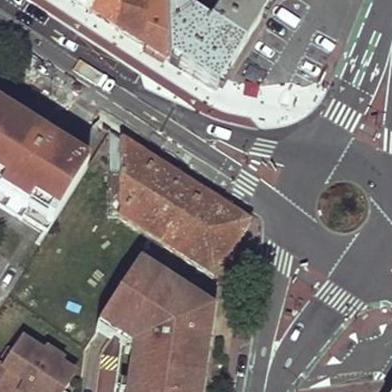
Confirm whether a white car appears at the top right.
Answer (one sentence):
Yes, a white car can be seen at the top right.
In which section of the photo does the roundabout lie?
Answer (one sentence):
The roundabout is in the right part of the image.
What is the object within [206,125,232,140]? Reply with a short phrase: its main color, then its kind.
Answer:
white vehicle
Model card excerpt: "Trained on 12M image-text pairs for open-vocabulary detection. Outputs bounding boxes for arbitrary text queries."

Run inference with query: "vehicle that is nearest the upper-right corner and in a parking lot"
[314,34,336,52]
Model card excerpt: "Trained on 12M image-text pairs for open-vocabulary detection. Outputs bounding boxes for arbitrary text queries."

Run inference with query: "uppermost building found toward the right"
[210,0,268,33]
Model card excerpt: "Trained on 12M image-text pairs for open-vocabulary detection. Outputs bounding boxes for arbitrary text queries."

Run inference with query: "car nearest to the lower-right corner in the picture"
[288,321,302,342]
